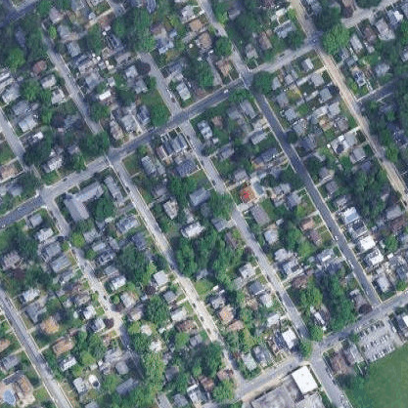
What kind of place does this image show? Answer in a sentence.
The area seen from above is a residential area.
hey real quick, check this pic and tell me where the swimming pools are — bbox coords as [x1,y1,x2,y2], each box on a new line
[2,390,16,406]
